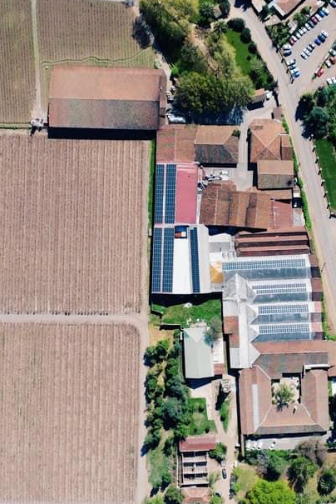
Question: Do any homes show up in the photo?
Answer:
Yes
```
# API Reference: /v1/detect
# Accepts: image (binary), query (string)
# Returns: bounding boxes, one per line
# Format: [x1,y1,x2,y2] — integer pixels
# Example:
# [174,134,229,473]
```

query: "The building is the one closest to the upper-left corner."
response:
[47,66,167,131]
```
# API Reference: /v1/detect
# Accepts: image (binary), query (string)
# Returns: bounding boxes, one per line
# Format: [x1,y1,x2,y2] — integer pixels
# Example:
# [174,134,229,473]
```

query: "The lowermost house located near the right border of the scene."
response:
[240,339,336,435]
